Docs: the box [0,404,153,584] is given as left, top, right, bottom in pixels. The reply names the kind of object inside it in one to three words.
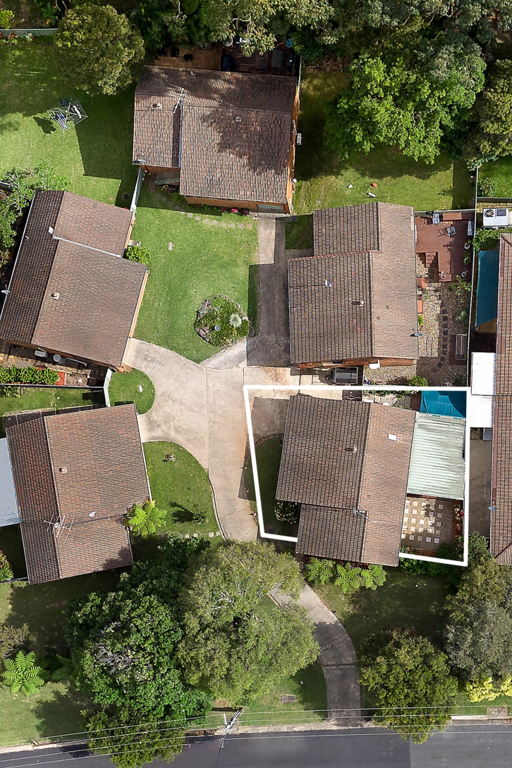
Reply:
house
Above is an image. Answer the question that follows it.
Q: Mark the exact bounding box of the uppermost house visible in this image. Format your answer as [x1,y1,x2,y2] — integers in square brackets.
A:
[132,64,301,213]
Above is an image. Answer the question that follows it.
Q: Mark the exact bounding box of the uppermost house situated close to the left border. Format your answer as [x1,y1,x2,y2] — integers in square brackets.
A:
[0,190,149,367]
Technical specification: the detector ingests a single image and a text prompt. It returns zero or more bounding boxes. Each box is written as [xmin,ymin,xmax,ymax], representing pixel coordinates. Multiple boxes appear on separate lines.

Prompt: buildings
[0,190,149,367]
[275,395,466,567]
[0,404,153,584]
[468,233,512,564]
[287,201,421,367]
[132,64,301,213]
